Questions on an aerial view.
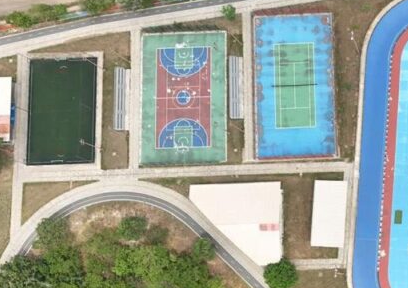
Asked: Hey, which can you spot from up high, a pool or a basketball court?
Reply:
basketball court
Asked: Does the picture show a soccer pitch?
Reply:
Yes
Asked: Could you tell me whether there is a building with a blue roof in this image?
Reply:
No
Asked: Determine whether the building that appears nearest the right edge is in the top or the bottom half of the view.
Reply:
bottom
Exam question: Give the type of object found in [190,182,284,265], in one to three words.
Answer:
building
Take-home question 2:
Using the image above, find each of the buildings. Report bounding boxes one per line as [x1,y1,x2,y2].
[311,180,348,247]
[190,182,284,265]
[0,77,21,143]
